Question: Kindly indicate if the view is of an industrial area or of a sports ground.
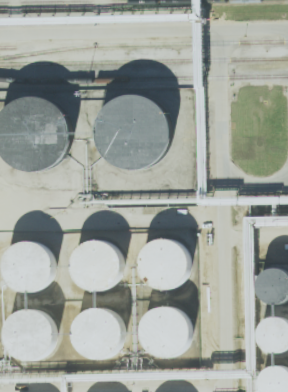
industrial area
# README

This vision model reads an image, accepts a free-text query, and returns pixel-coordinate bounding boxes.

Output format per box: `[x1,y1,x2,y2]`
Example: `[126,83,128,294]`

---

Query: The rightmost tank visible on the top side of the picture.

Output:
[93,95,174,174]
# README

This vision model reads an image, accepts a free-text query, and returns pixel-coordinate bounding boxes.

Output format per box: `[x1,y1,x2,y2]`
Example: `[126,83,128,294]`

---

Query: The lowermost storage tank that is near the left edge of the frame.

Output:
[2,310,57,362]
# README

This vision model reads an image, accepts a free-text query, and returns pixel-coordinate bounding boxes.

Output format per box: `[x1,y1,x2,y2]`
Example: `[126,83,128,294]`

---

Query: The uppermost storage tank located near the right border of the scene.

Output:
[254,268,288,308]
